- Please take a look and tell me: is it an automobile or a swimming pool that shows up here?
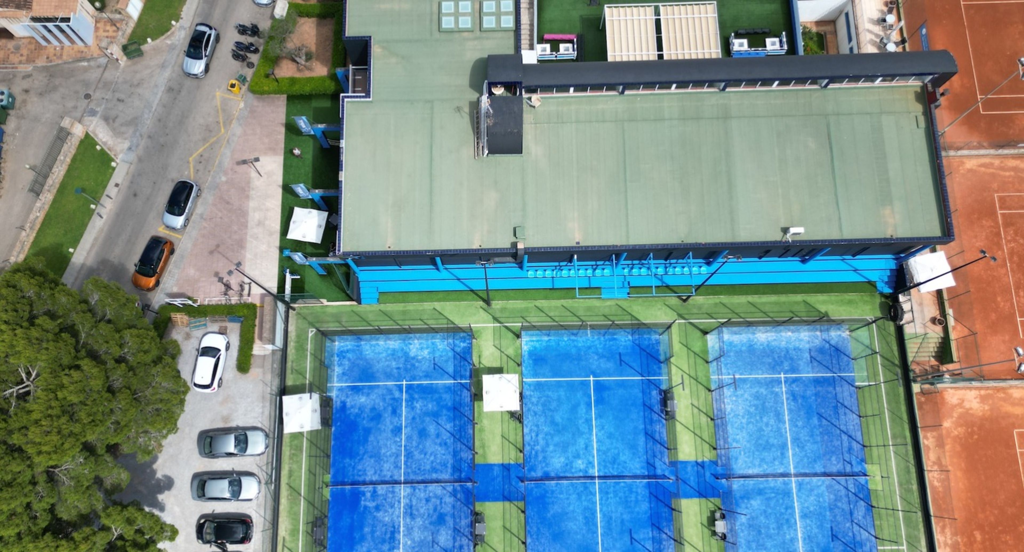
automobile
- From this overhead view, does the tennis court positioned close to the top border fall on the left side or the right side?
right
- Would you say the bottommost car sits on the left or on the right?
left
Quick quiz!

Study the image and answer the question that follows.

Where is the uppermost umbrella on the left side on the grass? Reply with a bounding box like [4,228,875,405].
[287,207,329,244]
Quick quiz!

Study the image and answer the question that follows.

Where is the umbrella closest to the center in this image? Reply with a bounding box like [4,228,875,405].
[483,374,519,411]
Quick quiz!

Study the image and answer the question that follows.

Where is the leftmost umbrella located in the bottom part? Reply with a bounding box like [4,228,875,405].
[283,393,321,433]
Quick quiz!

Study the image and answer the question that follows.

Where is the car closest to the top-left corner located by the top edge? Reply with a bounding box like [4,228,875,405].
[181,23,218,77]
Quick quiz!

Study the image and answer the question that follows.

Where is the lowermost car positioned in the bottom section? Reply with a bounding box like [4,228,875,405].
[195,517,254,552]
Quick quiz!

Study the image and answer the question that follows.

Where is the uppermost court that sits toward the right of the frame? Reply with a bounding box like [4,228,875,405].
[898,0,1024,133]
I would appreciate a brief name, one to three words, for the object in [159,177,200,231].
car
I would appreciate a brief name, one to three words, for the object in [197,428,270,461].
car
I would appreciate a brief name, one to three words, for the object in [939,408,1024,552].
tennis court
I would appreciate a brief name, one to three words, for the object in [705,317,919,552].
sports court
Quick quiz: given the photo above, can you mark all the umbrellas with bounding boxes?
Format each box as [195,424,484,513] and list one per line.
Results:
[483,374,519,411]
[283,393,321,433]
[287,207,329,244]
[908,251,955,293]
[882,20,903,43]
